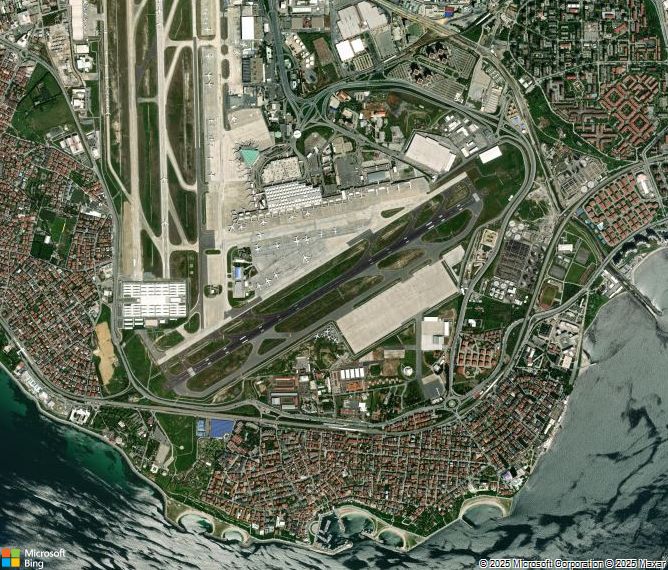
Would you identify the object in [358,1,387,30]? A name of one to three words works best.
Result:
building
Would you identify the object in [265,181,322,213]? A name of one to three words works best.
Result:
building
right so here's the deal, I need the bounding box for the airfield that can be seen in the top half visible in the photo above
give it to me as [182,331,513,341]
[84,0,486,400]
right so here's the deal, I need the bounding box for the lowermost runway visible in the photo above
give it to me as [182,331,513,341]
[160,191,483,393]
